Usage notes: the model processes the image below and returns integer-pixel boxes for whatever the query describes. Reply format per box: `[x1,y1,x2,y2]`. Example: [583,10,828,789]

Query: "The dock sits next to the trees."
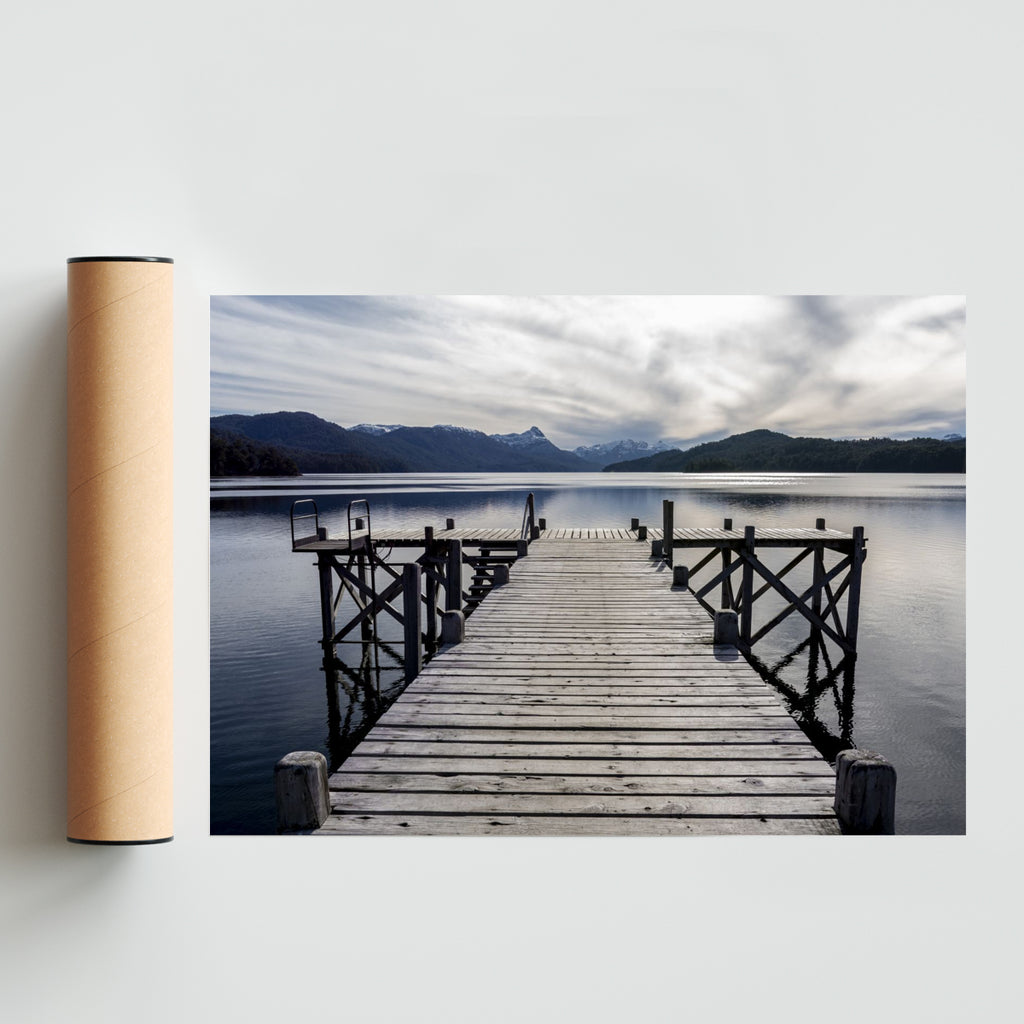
[274,492,897,835]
